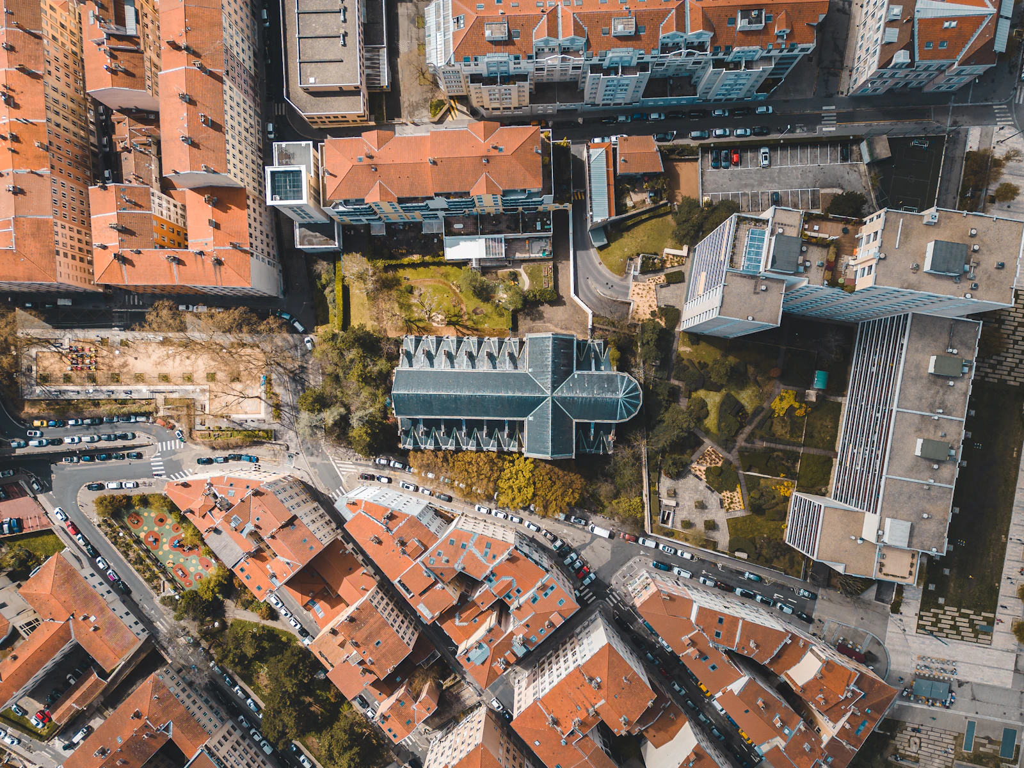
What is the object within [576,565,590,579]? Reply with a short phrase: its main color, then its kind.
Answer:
red car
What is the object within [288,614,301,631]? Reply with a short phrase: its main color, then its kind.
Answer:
white vehicle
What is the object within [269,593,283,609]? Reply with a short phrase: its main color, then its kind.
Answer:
white car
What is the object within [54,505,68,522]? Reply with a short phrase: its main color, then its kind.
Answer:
white car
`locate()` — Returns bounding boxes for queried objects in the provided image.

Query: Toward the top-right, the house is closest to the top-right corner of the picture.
[848,0,1016,95]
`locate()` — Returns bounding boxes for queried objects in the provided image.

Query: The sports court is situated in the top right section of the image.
[867,136,946,214]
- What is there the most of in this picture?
buildings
